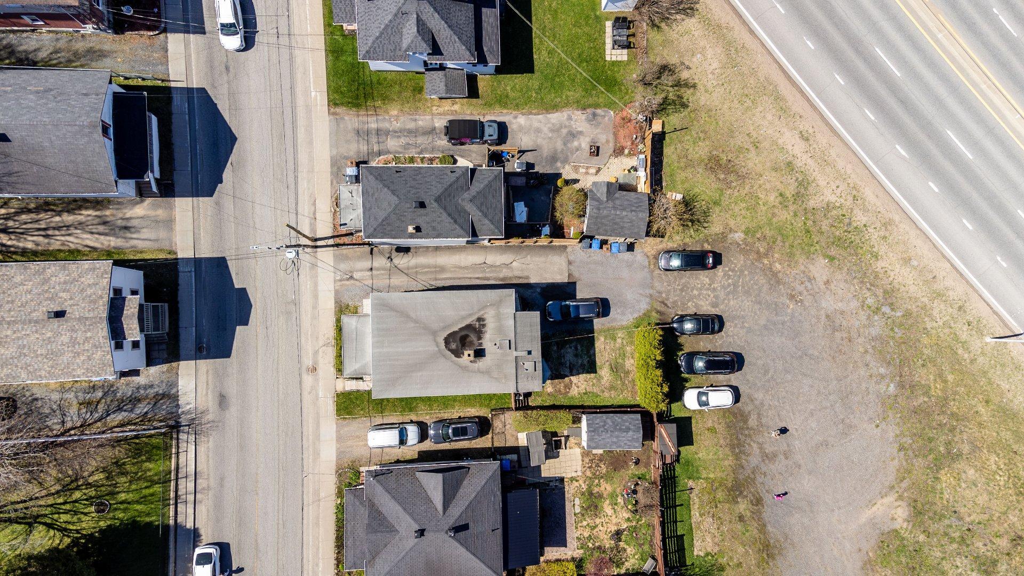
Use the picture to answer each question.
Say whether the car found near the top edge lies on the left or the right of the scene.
left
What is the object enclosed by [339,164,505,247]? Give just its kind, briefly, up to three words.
house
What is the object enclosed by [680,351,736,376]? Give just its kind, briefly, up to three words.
car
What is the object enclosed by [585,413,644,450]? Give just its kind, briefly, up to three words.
shed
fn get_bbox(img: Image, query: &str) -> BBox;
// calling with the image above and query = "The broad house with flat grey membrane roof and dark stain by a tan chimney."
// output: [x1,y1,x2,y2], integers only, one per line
[341,289,551,399]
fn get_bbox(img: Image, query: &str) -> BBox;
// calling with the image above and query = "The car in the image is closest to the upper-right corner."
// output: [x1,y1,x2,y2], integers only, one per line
[659,248,716,273]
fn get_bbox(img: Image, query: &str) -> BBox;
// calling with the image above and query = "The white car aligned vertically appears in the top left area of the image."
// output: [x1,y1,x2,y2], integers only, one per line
[217,0,245,53]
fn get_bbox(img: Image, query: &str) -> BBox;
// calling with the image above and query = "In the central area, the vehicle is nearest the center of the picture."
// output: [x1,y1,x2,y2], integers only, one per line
[546,297,600,321]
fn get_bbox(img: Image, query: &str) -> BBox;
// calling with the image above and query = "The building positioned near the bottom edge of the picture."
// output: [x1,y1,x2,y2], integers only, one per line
[345,457,541,576]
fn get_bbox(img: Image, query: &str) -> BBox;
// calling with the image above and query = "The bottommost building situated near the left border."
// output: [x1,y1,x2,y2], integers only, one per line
[0,259,159,380]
